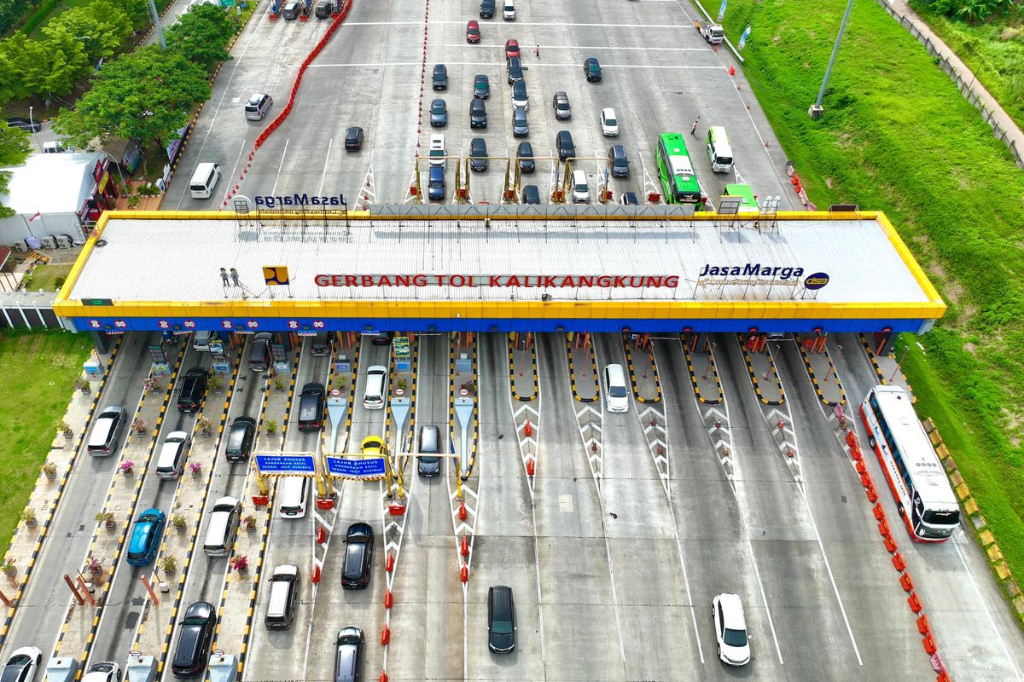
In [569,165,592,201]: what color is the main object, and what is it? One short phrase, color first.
white car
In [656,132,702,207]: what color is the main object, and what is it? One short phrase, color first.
green bus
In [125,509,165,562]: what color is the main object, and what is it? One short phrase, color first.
blue car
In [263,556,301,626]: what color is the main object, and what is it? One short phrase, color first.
white car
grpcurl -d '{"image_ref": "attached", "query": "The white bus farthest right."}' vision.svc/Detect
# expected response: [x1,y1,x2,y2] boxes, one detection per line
[865,388,978,542]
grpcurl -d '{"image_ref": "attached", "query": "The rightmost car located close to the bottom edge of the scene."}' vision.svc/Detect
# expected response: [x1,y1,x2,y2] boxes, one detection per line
[706,587,753,663]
